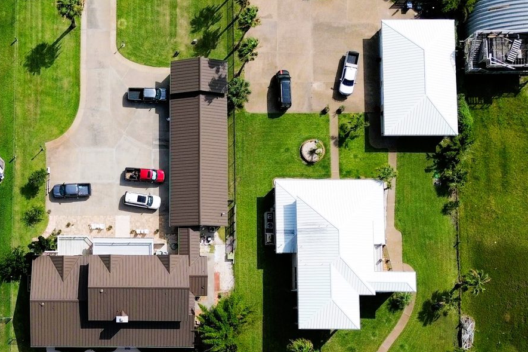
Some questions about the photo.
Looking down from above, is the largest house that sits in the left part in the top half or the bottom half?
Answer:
bottom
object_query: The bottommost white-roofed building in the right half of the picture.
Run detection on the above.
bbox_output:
[273,179,416,330]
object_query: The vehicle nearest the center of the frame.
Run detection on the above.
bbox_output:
[275,71,292,110]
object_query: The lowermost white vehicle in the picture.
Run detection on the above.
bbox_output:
[123,192,161,210]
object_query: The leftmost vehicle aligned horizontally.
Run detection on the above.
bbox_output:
[51,182,92,200]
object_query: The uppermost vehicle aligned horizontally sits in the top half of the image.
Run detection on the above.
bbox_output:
[128,85,168,103]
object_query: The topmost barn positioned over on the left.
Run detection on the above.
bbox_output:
[169,57,228,226]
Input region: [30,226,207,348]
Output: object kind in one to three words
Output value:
house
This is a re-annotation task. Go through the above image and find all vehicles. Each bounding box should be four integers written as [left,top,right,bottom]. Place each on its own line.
[275,71,292,110]
[51,182,92,200]
[123,192,161,210]
[128,85,168,103]
[124,167,166,184]
[338,52,359,96]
